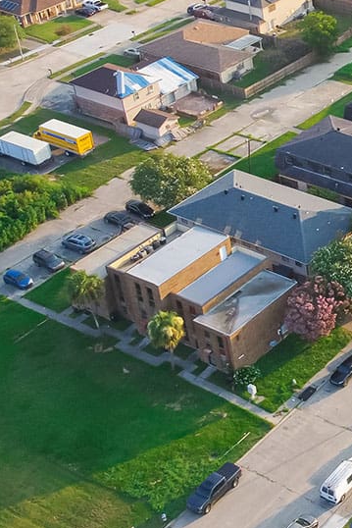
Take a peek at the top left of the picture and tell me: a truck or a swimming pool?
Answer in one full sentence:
The one visible at the top left of the picture is a truck.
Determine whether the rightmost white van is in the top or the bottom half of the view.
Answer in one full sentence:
The rightmost white van is in the bottom half of the image.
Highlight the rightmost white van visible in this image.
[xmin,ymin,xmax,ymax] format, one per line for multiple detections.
[308,464,352,510]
